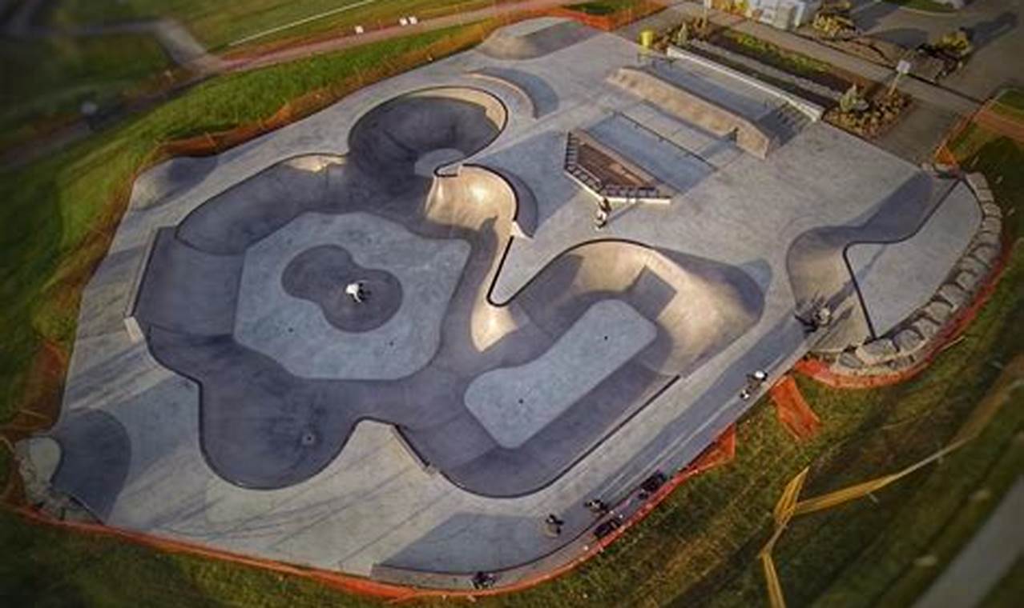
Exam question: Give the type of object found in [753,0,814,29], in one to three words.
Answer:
building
